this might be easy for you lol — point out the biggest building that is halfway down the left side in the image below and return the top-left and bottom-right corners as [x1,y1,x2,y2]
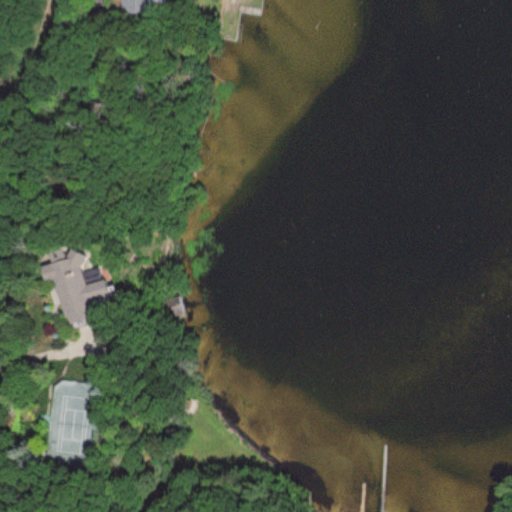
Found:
[41,249,112,327]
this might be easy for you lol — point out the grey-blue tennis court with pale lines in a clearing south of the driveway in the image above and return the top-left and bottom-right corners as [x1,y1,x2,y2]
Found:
[47,380,100,460]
